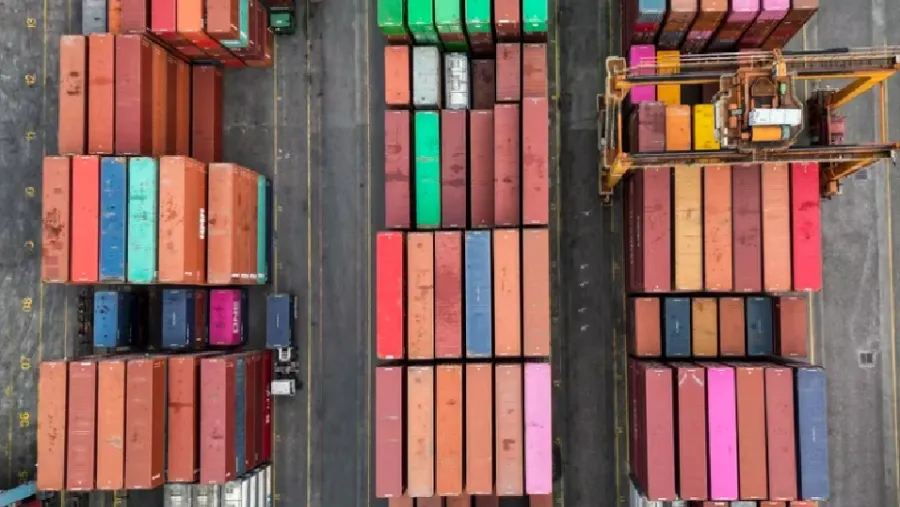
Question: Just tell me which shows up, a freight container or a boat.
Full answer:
Visible in the photo is a freight container.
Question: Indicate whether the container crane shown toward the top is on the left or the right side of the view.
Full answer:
The container crane shown toward the top is on the right side of the image.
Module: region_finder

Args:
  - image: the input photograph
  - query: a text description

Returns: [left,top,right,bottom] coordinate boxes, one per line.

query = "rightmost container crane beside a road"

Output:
[587,45,900,209]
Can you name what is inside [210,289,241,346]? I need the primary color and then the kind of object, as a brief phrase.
pink shipping container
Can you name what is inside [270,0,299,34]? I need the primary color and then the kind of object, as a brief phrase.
green truck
